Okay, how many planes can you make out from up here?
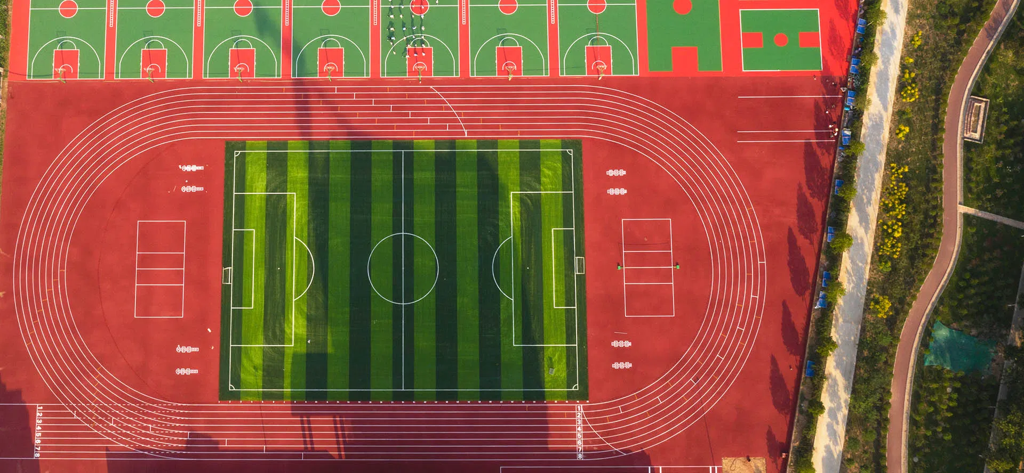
0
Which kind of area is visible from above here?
sports ground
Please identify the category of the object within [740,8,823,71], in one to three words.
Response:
sports court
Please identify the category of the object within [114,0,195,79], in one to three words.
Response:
basketball court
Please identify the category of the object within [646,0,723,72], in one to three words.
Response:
sports court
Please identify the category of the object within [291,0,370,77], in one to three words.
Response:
basketball court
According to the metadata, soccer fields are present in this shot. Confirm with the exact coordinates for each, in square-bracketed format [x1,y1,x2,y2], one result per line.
[219,139,588,401]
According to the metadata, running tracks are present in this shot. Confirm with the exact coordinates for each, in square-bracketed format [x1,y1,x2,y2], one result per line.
[0,85,767,471]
